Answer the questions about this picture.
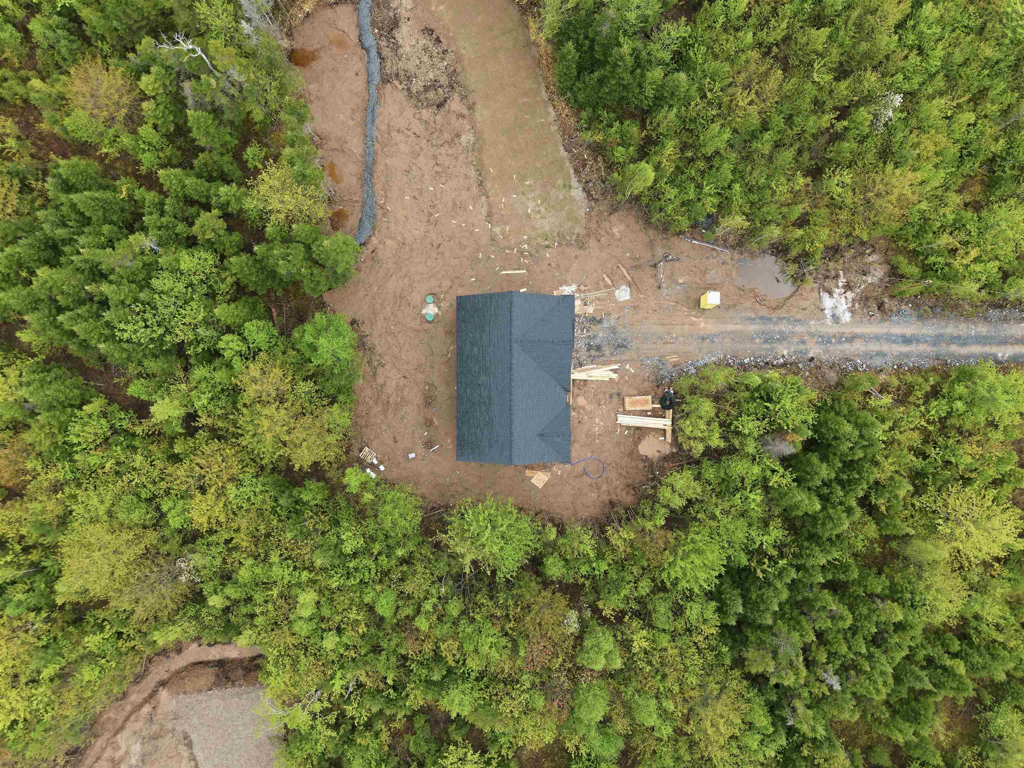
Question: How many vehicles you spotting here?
0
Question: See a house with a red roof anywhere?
No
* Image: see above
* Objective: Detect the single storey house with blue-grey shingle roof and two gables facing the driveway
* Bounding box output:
[456,290,575,465]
